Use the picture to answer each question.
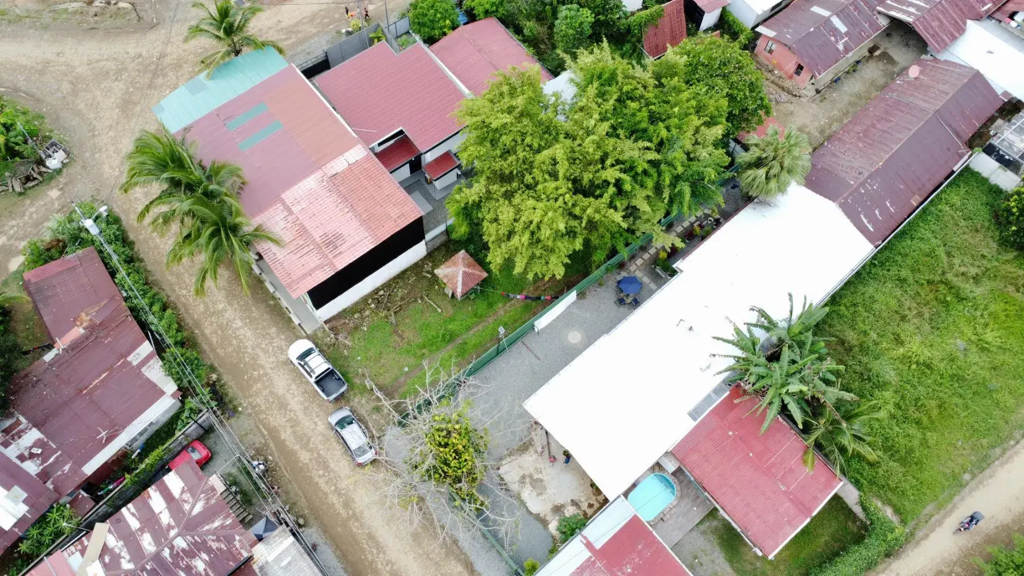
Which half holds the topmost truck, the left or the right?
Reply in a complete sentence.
You can find the topmost truck on the left side of the picture.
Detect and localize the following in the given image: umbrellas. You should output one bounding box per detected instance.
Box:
[616,276,640,296]
[250,516,279,541]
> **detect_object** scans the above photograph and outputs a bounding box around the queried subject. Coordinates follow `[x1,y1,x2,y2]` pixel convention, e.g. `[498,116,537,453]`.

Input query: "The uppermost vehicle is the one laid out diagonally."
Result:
[292,340,350,406]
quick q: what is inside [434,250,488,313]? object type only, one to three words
shed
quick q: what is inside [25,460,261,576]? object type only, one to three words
house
